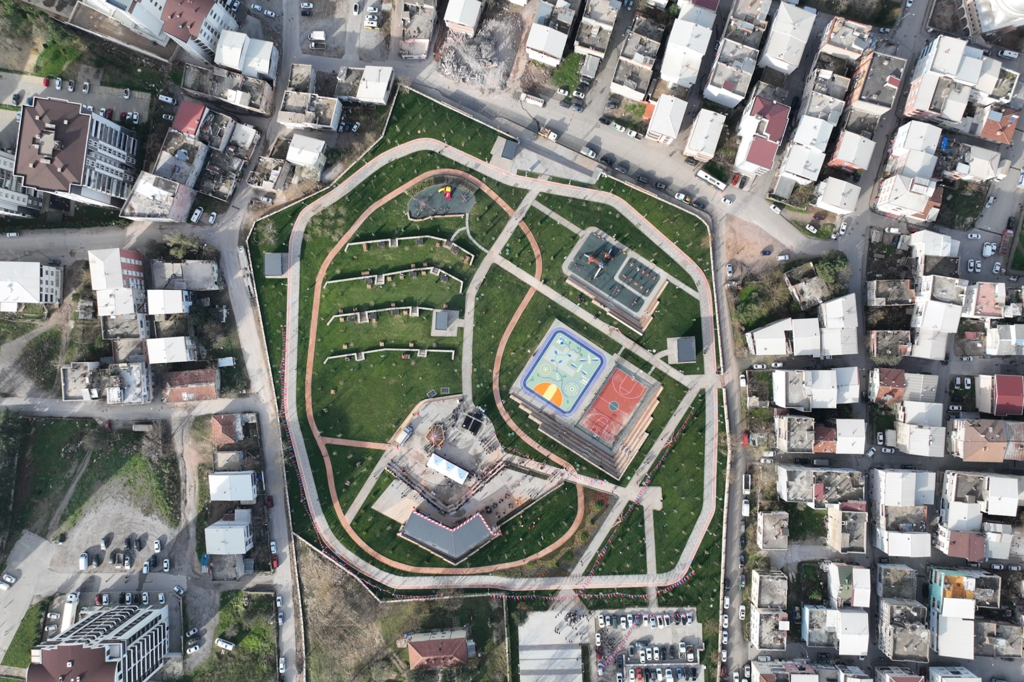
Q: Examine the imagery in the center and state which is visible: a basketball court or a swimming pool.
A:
basketball court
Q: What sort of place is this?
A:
residential area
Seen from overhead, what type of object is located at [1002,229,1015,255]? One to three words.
vehicle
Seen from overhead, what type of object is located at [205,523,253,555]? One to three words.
house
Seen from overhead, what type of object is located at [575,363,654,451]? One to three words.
basketball court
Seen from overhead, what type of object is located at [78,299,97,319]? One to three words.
shed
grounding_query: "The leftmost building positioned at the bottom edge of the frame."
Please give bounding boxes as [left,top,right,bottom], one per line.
[25,607,170,682]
